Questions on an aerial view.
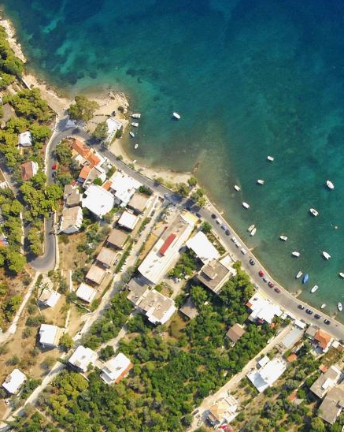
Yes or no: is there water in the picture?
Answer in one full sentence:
Yes, water can be seen from above here.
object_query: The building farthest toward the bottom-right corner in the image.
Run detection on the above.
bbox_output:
[318,385,344,421]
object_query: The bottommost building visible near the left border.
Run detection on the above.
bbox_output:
[2,368,30,394]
